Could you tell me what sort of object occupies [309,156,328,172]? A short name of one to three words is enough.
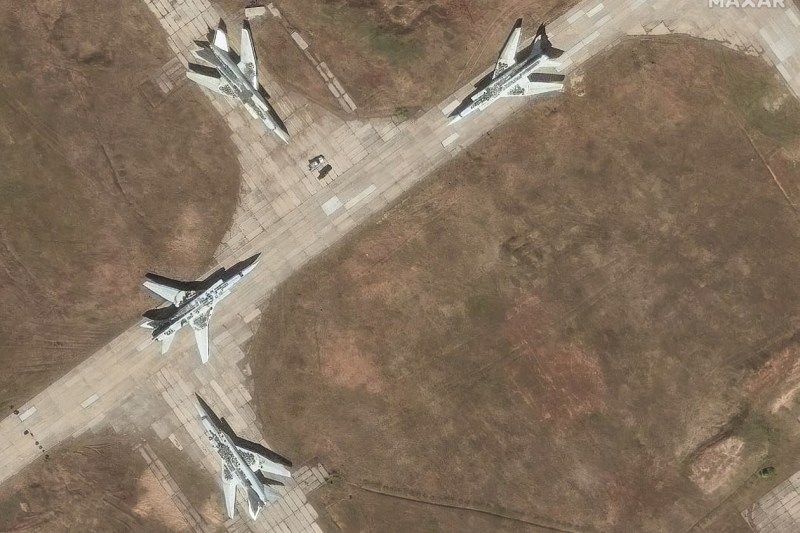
vehicle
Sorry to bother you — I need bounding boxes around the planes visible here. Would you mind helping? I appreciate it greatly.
[195,399,292,518]
[448,26,566,125]
[184,28,288,143]
[140,260,259,365]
